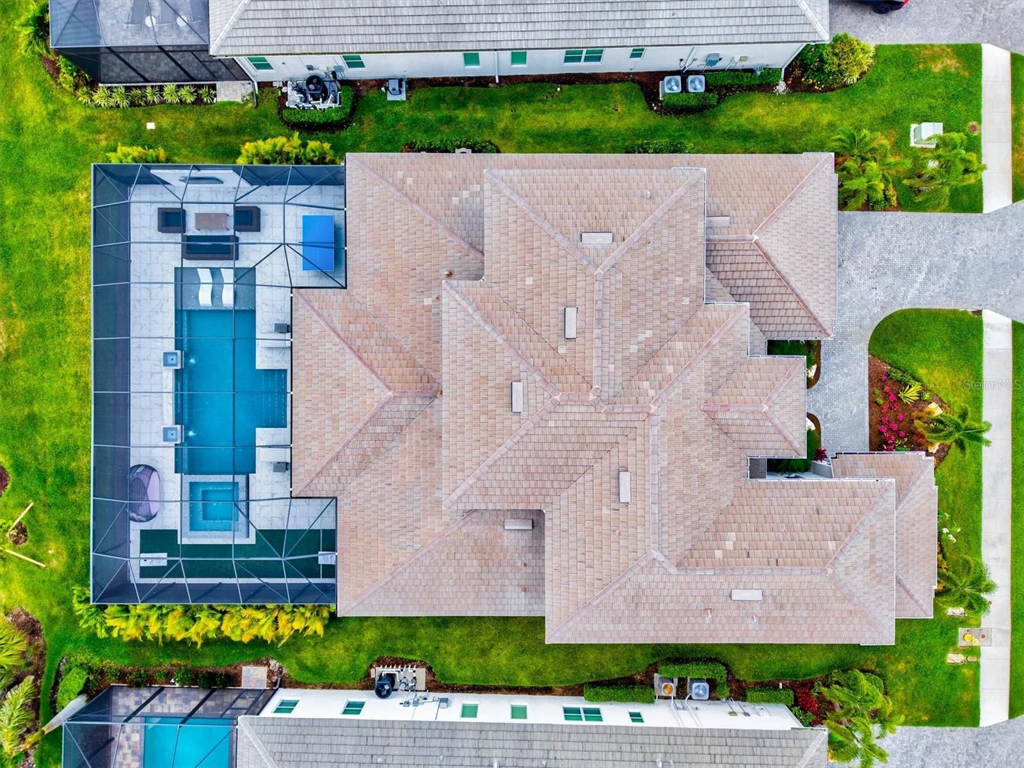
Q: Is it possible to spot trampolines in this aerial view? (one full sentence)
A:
No, there appears to be no trampoline in this shot.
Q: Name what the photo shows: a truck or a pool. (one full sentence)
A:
This aerial view contains a pool.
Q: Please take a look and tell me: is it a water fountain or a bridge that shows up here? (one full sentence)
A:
The one in the frame is a water fountain.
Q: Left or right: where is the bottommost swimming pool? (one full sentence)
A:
The bottommost swimming pool is on the left side of the image.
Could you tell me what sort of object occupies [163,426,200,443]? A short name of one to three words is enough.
fountain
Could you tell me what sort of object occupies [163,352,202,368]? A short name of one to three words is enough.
fountain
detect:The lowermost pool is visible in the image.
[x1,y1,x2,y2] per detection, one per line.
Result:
[144,717,234,768]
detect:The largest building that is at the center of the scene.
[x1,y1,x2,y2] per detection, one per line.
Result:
[290,151,939,646]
